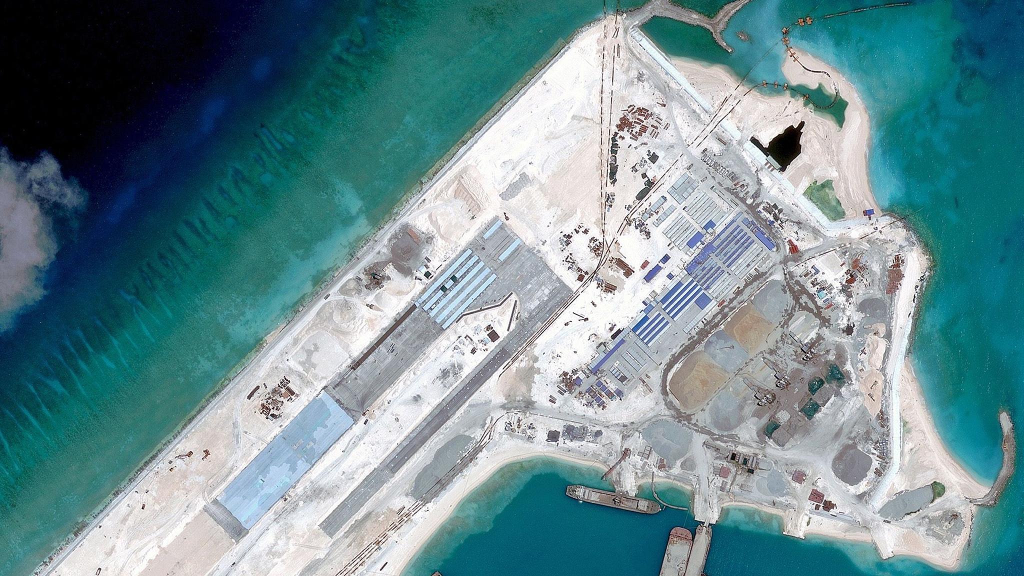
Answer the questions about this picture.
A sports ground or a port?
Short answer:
port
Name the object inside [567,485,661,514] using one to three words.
ship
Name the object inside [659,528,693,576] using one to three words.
ship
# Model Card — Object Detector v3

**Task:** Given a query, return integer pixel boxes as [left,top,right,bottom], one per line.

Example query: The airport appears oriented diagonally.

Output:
[203,217,573,541]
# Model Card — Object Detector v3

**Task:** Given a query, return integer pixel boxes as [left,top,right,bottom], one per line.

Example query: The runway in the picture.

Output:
[205,217,528,540]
